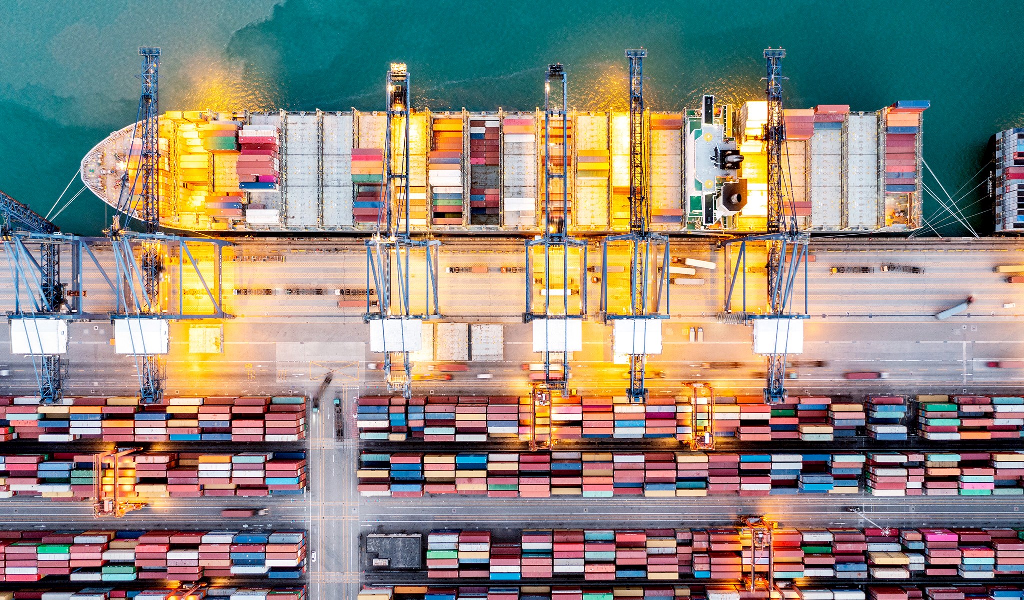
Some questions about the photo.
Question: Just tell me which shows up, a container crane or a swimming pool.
container crane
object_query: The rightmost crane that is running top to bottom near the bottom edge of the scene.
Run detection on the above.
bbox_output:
[732,509,774,593]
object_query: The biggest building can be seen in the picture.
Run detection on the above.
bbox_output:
[366,534,423,569]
